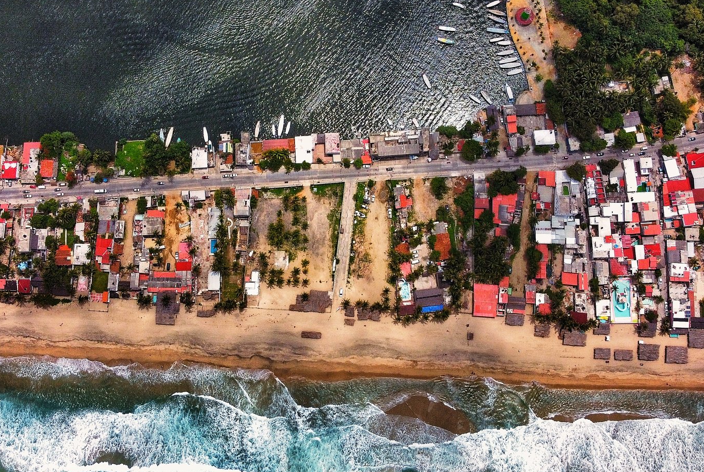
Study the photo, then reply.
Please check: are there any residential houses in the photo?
Yes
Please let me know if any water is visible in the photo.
Yes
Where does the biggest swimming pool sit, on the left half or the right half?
right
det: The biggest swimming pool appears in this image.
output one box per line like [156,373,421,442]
[612,279,632,318]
